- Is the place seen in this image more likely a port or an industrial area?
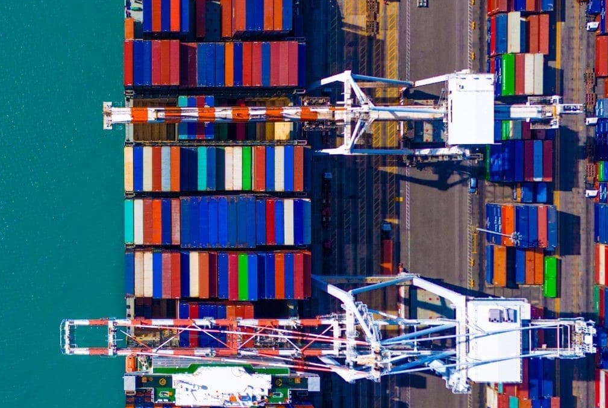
port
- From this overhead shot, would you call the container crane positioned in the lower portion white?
Yes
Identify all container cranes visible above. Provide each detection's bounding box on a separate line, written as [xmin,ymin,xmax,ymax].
[57,255,599,394]
[103,70,582,168]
